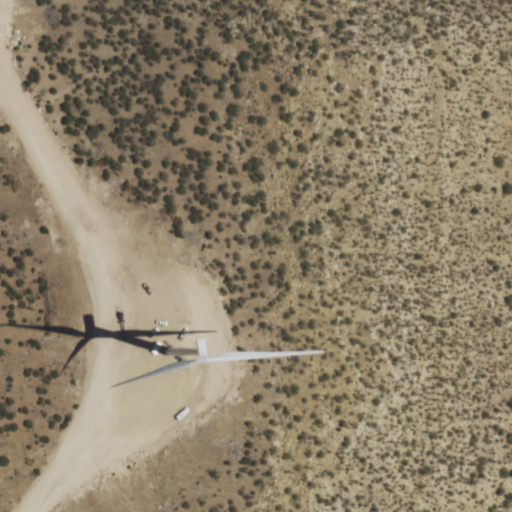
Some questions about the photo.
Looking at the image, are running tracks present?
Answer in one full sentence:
No, this view has no running track in it.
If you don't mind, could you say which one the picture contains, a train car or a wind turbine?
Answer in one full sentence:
It is a wind turbine that can be seen here.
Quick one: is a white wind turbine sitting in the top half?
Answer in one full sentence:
No, there's no white wind turbine to be seen in the top half.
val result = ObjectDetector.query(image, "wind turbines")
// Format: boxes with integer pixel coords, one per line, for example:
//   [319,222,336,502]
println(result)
[112,338,320,386]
